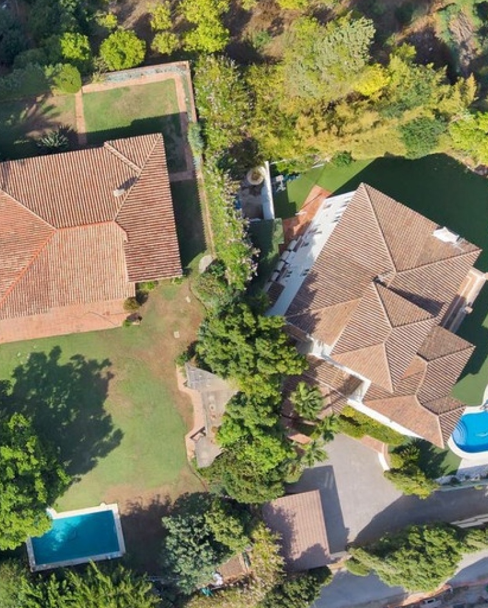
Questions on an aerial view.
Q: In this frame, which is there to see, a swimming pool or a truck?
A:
swimming pool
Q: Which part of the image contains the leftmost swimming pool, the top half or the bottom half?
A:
bottom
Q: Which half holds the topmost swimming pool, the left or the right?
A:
right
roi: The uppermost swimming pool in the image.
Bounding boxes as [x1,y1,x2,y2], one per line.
[446,386,488,464]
